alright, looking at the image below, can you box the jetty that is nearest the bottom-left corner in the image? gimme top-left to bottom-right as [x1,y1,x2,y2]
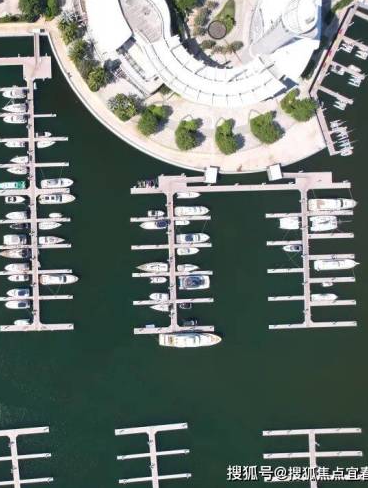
[0,427,54,488]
